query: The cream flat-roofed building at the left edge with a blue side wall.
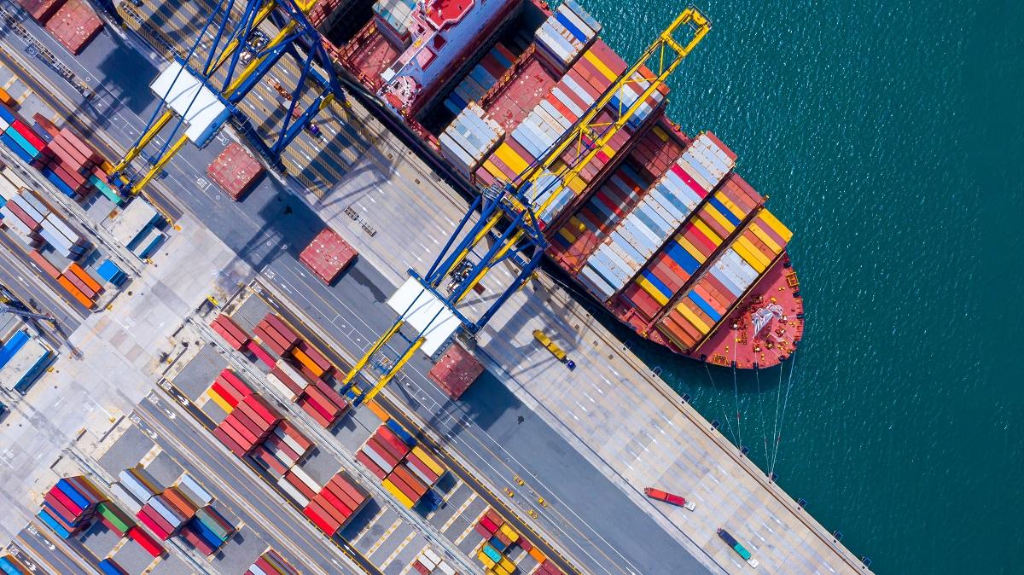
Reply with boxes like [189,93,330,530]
[0,337,59,393]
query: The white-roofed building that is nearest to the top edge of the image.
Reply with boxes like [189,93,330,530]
[109,197,172,266]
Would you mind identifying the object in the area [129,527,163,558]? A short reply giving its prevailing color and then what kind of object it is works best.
red shipping container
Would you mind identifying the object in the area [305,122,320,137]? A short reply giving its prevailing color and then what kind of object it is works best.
blue vehicle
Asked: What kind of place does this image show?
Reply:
port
